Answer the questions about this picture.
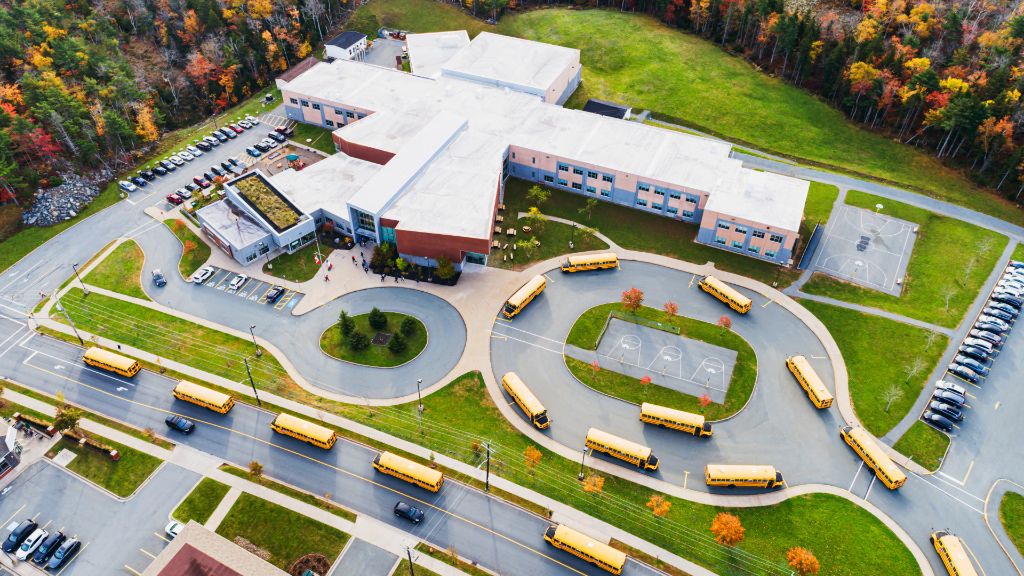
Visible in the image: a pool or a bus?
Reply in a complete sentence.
There is a bus in the scene.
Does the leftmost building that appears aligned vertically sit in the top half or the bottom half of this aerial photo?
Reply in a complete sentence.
Seen from above, the leftmost building that appears aligned vertically lies in the bottom half of the view.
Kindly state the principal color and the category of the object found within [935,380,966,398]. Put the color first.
white car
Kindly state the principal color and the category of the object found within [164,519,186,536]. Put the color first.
white car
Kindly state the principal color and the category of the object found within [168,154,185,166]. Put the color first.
white vehicle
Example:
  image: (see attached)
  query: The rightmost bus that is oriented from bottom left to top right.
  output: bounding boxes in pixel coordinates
[502,276,547,320]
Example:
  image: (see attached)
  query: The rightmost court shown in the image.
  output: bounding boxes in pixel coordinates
[807,204,920,296]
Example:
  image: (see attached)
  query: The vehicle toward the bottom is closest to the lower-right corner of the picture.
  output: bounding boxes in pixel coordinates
[926,522,976,576]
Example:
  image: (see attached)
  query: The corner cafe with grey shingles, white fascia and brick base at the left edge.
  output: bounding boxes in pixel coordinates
[0,421,28,487]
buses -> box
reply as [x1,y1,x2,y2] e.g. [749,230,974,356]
[78,348,143,381]
[502,276,547,320]
[703,467,788,490]
[502,374,552,434]
[926,522,976,576]
[638,405,716,440]
[695,278,752,319]
[168,381,236,417]
[785,354,833,412]
[267,413,338,453]
[368,452,445,495]
[559,254,618,276]
[838,424,905,493]
[584,429,662,475]
[541,523,627,576]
